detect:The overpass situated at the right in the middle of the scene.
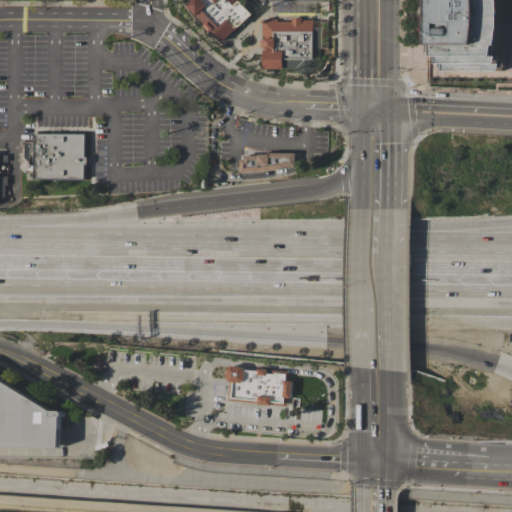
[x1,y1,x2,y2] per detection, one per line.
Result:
[345,204,410,373]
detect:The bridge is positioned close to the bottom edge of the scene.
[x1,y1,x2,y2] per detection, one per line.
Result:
[349,480,410,512]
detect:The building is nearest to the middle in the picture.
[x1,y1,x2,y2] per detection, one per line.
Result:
[238,146,296,174]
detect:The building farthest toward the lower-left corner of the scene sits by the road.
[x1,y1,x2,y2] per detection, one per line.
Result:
[0,381,66,448]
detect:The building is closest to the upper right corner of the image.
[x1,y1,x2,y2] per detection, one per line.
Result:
[418,0,496,71]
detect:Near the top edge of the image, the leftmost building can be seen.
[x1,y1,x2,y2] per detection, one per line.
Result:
[184,0,254,42]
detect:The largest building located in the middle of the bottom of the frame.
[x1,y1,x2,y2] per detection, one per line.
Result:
[226,367,301,407]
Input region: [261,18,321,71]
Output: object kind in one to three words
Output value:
building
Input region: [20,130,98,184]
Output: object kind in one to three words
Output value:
building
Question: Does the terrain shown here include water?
No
